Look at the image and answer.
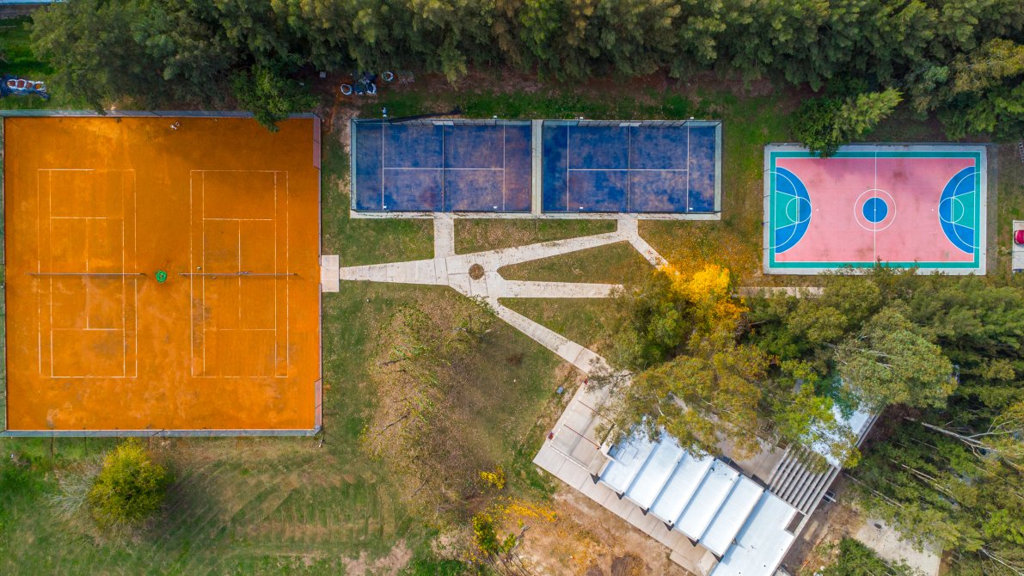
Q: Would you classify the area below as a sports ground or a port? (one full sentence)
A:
What you see here is a sports ground.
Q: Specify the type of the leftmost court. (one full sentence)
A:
It turns out the leftmost court is a tennis court.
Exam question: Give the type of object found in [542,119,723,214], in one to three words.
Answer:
sports court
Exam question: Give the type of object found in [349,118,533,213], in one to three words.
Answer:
sports court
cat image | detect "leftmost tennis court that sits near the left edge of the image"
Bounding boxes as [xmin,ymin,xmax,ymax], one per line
[4,116,163,430]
